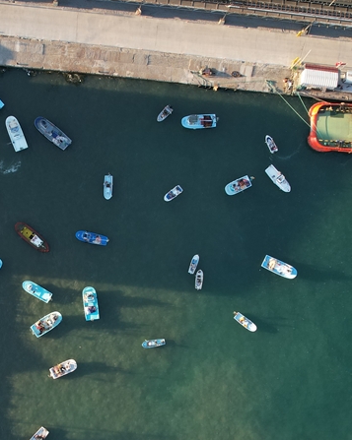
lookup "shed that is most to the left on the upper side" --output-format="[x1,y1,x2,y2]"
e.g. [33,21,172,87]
[297,62,338,94]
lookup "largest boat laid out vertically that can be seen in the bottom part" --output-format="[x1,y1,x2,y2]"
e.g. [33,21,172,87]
[83,286,98,322]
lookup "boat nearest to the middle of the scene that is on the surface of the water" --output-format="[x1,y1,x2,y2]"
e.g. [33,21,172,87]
[164,185,184,201]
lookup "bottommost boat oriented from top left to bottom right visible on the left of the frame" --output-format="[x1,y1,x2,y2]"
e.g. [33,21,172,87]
[22,281,54,304]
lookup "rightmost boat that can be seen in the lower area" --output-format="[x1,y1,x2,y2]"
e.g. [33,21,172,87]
[260,254,297,278]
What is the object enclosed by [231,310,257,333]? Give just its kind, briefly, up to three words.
boat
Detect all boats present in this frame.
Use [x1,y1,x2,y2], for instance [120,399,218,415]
[141,338,167,349]
[15,222,48,252]
[164,185,184,201]
[37,118,72,151]
[224,174,254,194]
[195,269,203,292]
[47,360,77,380]
[231,310,257,333]
[28,312,61,340]
[75,231,110,246]
[306,102,352,155]
[30,425,51,440]
[260,254,297,278]
[104,173,112,200]
[22,281,54,304]
[264,135,278,155]
[262,162,290,192]
[181,114,219,129]
[6,115,28,152]
[187,255,199,276]
[83,286,98,322]
[157,105,173,122]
